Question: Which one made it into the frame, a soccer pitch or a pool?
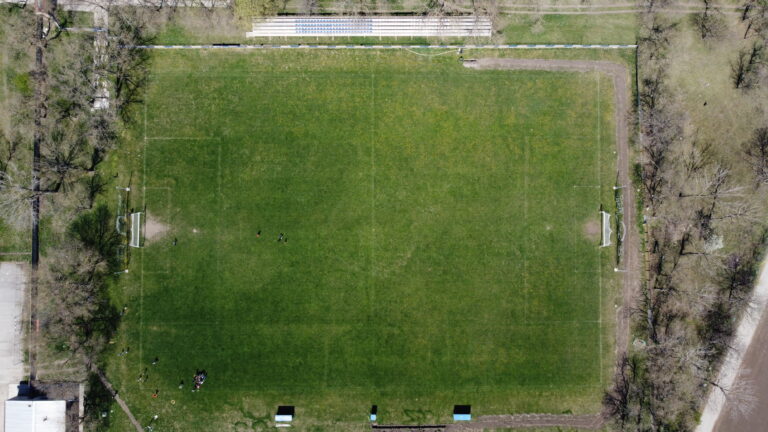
soccer pitch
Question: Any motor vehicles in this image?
No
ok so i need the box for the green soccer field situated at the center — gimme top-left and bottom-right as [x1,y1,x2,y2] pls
[140,52,603,391]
